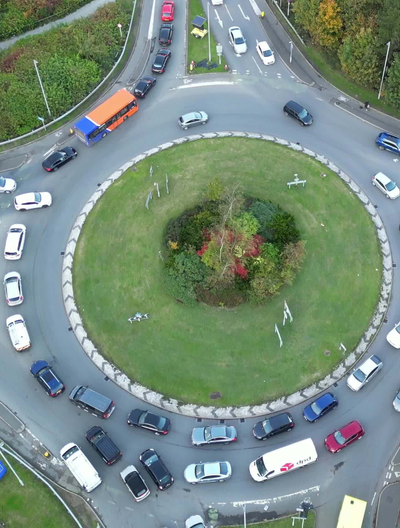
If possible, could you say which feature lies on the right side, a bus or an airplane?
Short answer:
bus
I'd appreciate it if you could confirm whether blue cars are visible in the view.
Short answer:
Yes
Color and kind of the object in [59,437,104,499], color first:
white van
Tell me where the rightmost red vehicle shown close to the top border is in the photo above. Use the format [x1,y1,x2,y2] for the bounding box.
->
[160,1,174,22]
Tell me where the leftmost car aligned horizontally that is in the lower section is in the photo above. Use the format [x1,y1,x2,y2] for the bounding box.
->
[126,412,172,438]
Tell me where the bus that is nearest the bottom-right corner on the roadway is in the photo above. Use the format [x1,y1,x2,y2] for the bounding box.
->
[340,496,372,528]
